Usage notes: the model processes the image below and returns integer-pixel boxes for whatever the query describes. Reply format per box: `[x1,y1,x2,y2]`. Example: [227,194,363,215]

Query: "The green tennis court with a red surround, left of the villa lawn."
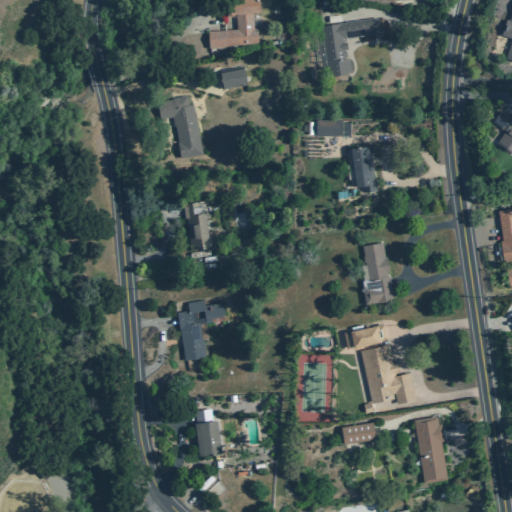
[298,354,334,422]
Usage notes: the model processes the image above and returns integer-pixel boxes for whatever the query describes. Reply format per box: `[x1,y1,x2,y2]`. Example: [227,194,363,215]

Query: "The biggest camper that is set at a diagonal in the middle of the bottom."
[200,476,216,491]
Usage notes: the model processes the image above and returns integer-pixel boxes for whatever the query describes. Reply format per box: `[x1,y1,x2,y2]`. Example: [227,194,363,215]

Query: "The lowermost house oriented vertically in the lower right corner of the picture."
[416,416,448,483]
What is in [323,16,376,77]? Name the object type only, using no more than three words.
house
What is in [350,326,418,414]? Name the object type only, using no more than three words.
house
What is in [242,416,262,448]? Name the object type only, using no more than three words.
swimming pool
